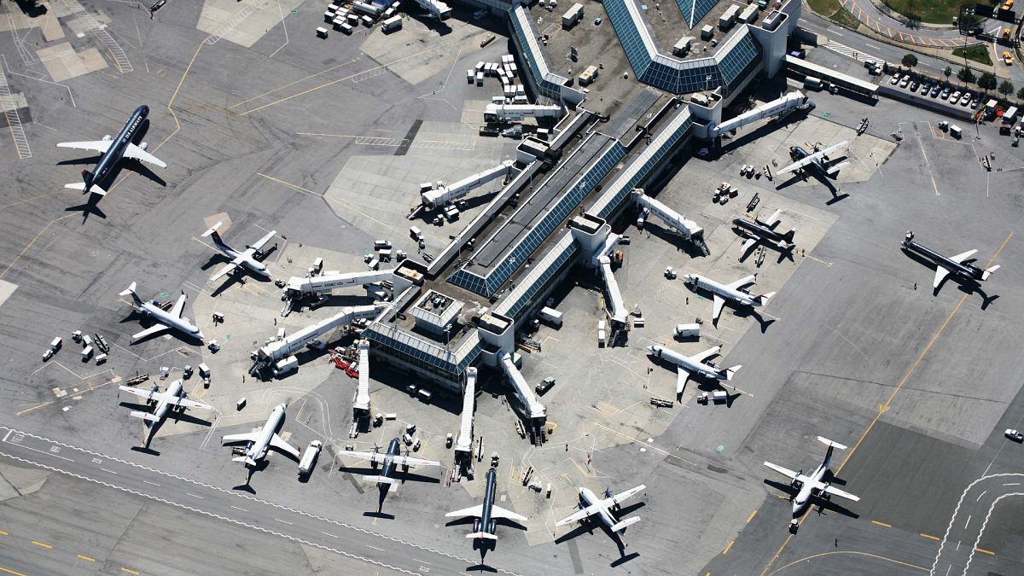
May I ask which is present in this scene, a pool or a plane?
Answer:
plane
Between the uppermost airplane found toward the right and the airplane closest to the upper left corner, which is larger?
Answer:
the airplane closest to the upper left corner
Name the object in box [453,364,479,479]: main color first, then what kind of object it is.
white jet bridge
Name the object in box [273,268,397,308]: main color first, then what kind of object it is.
white jet bridge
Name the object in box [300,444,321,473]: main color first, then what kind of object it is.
white truck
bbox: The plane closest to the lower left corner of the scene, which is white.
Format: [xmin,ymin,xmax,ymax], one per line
[118,378,212,430]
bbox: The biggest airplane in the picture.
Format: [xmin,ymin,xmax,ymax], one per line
[56,108,169,196]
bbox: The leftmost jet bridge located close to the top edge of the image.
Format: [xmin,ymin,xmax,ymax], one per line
[418,0,448,35]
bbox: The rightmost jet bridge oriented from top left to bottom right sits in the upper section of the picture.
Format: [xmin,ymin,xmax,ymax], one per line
[630,184,708,257]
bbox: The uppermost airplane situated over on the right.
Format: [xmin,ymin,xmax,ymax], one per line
[775,139,849,181]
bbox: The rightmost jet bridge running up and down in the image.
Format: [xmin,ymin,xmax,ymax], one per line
[597,253,629,348]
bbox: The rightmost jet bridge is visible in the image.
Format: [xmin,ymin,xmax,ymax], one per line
[703,89,814,150]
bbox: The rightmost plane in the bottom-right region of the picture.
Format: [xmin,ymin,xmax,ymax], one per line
[764,438,861,512]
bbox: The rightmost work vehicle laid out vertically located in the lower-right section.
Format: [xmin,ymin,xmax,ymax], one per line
[788,513,800,536]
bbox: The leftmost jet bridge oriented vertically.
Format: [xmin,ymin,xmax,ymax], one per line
[353,336,372,435]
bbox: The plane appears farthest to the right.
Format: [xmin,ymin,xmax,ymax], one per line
[902,241,1001,287]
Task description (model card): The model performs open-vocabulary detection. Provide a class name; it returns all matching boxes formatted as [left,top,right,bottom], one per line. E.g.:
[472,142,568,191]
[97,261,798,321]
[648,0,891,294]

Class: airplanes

[684,273,775,319]
[118,378,212,430]
[902,241,1001,287]
[338,437,441,493]
[220,405,299,466]
[203,222,277,280]
[733,210,802,253]
[554,484,647,537]
[648,345,741,393]
[764,438,861,512]
[56,108,169,196]
[120,283,203,341]
[445,468,527,545]
[775,139,849,181]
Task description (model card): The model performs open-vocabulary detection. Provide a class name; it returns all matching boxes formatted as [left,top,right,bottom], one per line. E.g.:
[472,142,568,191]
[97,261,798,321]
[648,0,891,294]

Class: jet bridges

[597,253,629,348]
[630,184,708,257]
[703,89,814,150]
[479,102,561,129]
[501,348,545,446]
[255,304,382,385]
[273,268,397,308]
[425,157,516,223]
[353,336,372,435]
[453,364,479,479]
[418,0,448,35]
